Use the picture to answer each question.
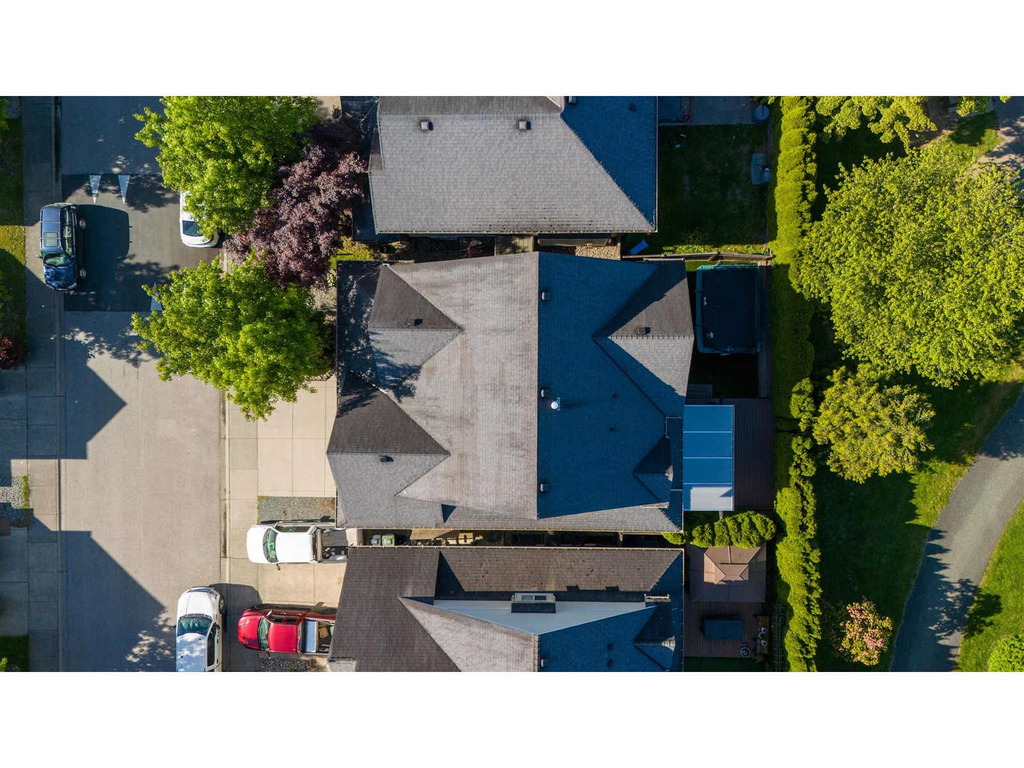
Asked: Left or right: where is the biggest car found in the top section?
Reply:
left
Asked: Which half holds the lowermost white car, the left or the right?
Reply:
left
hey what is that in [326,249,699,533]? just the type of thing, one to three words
house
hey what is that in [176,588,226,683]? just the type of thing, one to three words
car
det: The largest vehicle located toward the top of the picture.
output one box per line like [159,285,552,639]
[36,205,88,290]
